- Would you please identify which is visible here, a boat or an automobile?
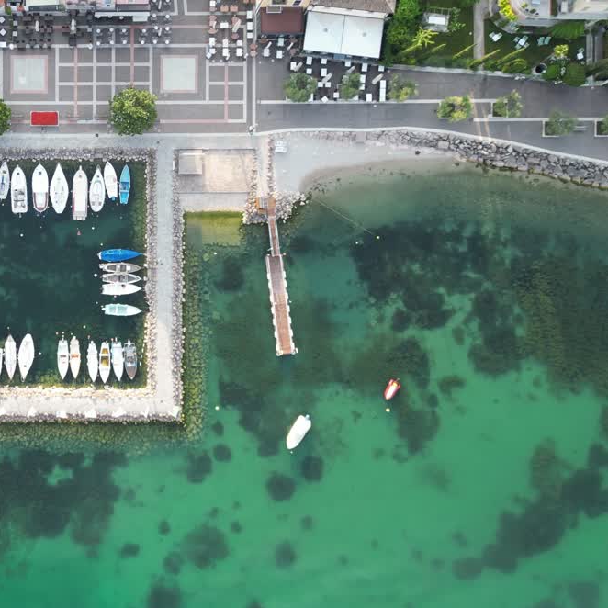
boat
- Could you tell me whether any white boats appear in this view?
Yes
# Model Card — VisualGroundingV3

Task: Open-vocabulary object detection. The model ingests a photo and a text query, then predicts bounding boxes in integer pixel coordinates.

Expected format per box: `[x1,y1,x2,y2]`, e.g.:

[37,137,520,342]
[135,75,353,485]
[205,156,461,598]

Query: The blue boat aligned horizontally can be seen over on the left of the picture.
[96,249,149,262]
